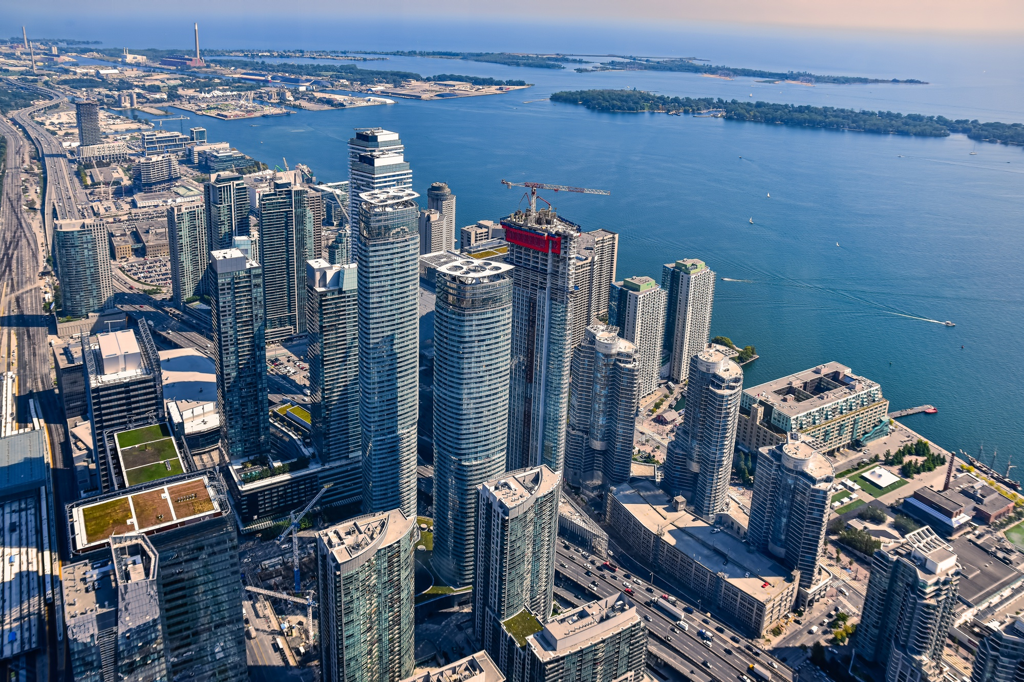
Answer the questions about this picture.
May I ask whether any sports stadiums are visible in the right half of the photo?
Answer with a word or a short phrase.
No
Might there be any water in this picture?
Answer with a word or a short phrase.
Yes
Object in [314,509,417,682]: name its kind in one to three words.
building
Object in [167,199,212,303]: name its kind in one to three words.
building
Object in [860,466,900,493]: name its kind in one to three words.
tent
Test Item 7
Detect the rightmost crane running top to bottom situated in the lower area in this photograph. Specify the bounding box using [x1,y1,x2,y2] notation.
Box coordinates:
[276,483,329,587]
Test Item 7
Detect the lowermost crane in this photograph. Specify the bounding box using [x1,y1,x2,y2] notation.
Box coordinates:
[242,584,318,662]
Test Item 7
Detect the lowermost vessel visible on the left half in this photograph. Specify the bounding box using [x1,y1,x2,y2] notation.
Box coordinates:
[290,166,322,179]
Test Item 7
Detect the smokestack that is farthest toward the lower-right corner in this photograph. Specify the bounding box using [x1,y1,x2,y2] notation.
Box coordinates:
[942,451,958,494]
